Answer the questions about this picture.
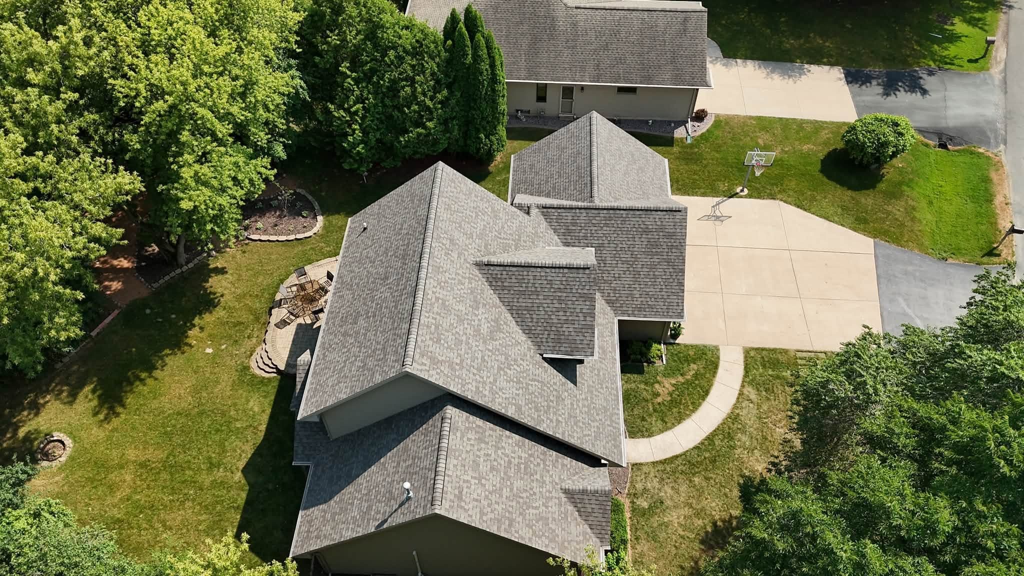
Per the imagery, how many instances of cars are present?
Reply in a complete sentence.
The picture shows no cars.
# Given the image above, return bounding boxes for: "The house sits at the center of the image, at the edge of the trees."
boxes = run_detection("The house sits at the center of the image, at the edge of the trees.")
[288,110,689,576]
